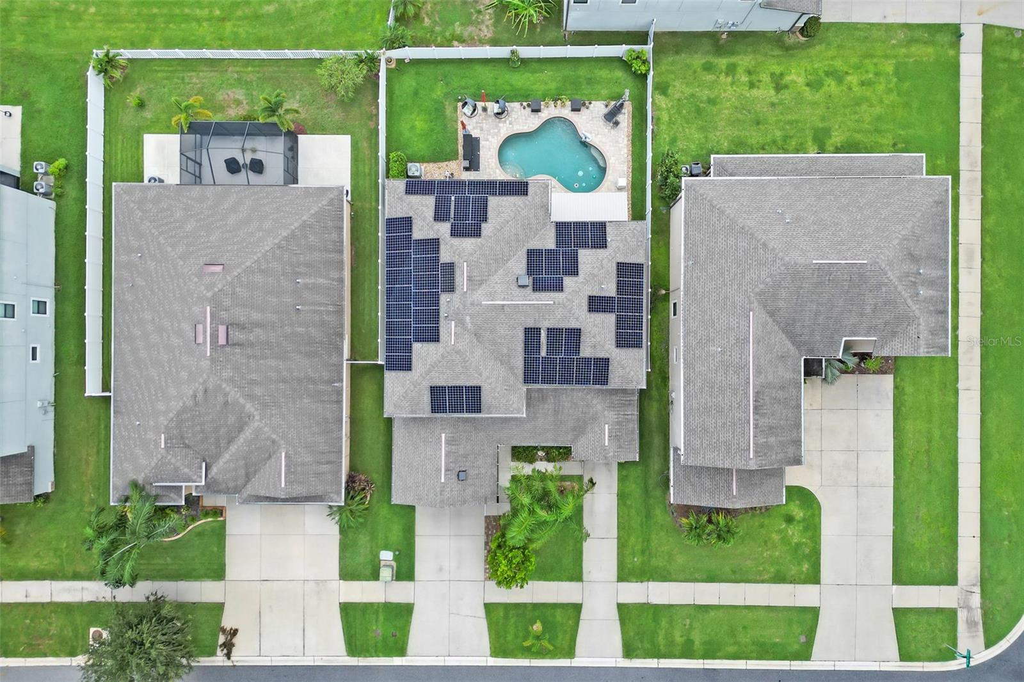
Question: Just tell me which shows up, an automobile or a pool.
pool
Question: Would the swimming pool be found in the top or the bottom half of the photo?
top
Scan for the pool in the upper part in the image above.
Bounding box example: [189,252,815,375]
[494,112,612,191]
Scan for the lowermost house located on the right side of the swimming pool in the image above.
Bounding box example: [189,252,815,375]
[668,153,952,511]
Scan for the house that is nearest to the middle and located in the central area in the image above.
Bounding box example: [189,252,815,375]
[385,178,646,509]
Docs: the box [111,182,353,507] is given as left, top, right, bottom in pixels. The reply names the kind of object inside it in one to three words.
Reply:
house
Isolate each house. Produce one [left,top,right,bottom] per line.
[0,169,61,504]
[385,178,646,509]
[111,182,353,507]
[566,0,824,35]
[668,153,952,511]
